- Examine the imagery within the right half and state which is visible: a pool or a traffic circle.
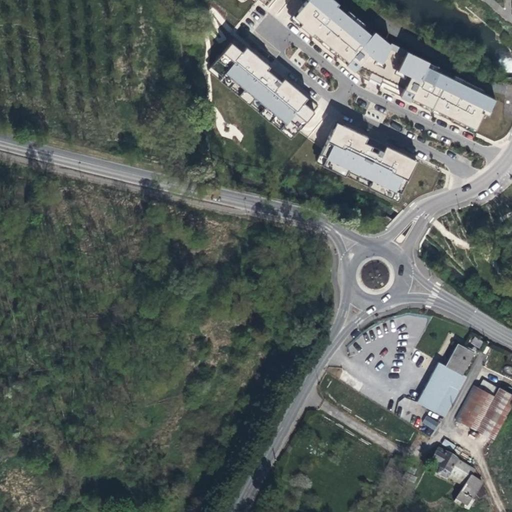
traffic circle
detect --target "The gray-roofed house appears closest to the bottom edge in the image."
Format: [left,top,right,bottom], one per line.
[454,474,484,510]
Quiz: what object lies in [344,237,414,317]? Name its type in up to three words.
roundabout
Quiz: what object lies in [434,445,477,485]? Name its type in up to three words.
house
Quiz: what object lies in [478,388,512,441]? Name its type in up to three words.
barn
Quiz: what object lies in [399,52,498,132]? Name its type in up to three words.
building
